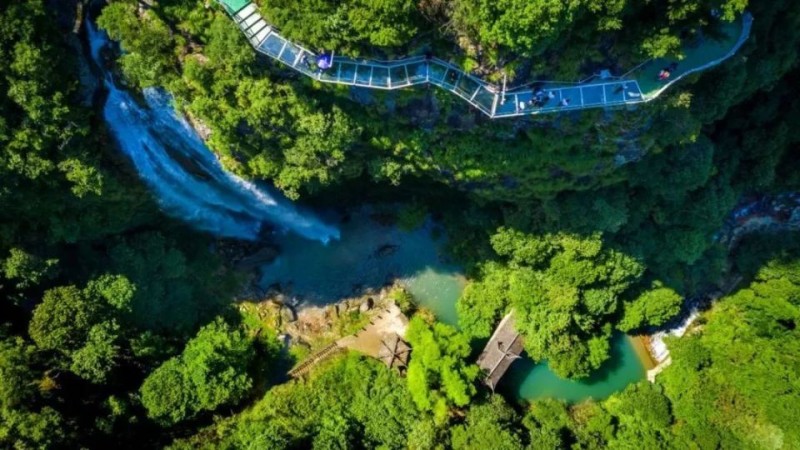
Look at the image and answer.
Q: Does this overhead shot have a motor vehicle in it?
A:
No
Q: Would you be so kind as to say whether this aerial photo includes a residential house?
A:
No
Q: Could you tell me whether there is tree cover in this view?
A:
Yes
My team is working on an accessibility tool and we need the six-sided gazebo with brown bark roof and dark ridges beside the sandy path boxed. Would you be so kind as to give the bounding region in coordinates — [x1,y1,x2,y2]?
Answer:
[375,331,411,371]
